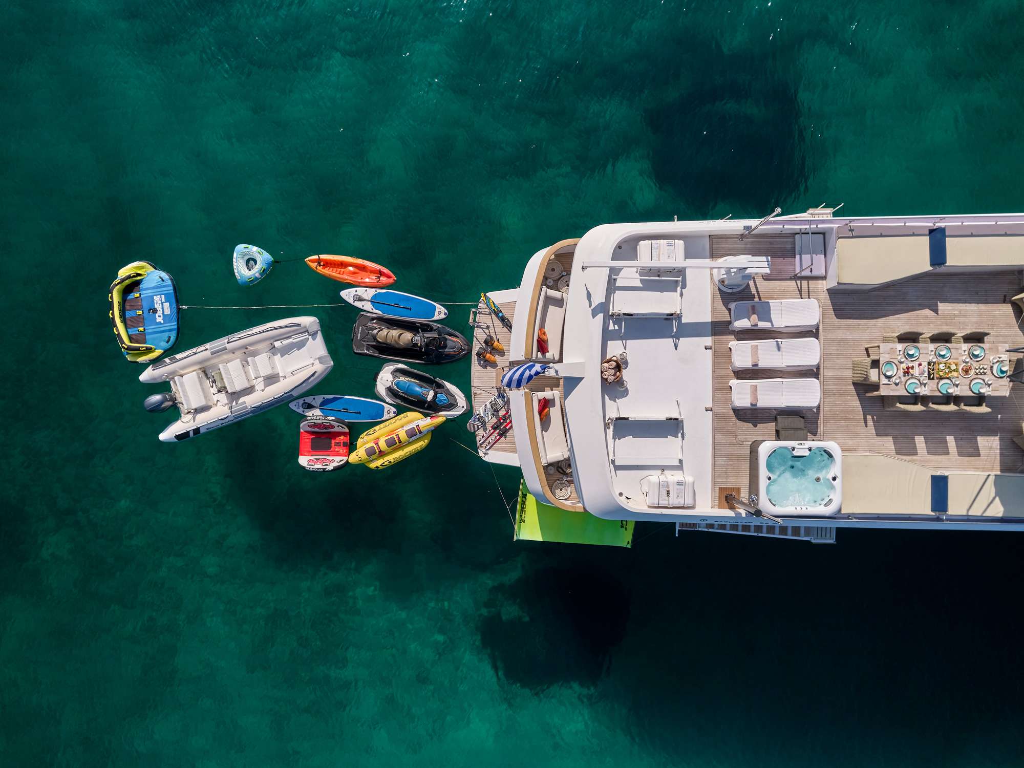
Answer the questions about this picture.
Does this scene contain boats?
Yes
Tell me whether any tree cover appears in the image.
No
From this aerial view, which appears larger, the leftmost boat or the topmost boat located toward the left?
the leftmost boat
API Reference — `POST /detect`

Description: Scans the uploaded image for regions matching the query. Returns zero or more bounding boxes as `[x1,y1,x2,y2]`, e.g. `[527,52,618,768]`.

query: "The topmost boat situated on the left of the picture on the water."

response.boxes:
[304,256,398,287]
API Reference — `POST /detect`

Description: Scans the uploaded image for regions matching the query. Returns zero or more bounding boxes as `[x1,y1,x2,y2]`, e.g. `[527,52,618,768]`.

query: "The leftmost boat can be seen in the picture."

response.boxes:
[139,316,334,441]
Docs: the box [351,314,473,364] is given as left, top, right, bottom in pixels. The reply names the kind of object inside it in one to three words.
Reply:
boat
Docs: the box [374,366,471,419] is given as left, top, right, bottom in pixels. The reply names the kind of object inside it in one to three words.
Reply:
boat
